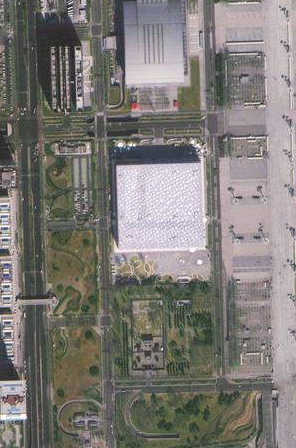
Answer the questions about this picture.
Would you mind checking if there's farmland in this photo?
No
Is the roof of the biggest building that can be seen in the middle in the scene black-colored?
No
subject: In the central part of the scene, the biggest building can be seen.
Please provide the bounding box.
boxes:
[115,162,206,251]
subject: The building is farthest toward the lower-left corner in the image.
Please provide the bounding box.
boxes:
[0,380,26,422]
